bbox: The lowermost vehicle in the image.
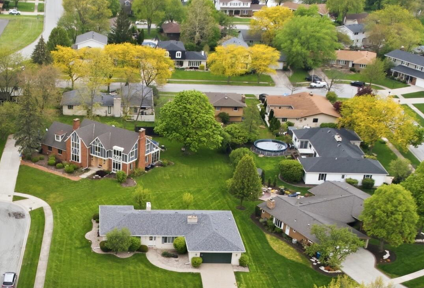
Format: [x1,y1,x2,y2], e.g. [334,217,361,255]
[1,273,17,288]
